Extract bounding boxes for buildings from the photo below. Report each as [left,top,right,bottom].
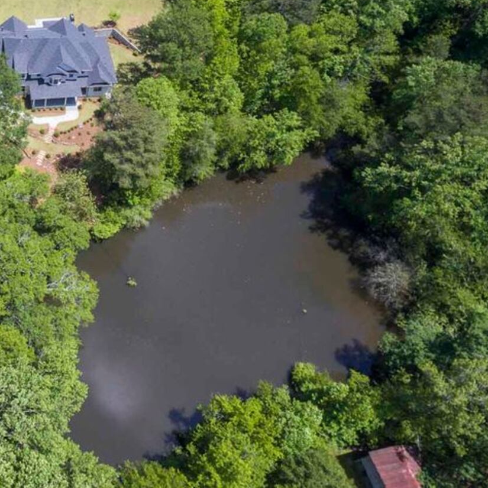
[355,441,443,488]
[0,9,115,110]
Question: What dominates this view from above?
trees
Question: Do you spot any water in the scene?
Yes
